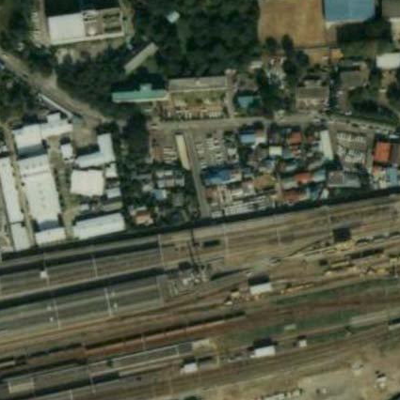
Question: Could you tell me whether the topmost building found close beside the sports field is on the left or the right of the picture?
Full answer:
The topmost building found close beside the sports field appears in the right half of the scene.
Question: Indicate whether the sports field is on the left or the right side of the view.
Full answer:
It is on the right.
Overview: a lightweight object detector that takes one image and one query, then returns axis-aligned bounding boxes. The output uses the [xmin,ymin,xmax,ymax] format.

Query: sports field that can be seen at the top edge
[259,0,327,48]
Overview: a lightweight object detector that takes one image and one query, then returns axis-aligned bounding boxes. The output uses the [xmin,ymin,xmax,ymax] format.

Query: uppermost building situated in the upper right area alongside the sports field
[325,0,375,21]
